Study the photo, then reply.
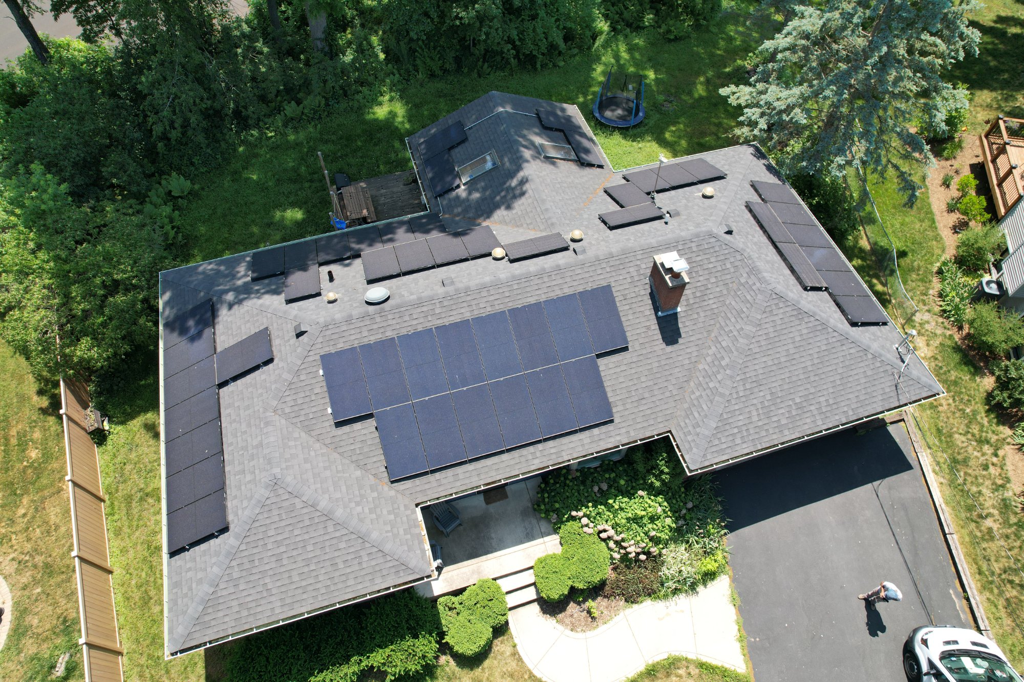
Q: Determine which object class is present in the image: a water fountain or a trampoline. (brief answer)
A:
trampoline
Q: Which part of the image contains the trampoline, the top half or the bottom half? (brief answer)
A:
top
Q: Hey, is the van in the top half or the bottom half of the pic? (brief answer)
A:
bottom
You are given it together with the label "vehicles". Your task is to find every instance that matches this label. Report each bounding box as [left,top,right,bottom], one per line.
[903,627,1016,682]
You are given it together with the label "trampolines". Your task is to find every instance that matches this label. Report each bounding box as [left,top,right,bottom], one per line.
[593,62,654,137]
